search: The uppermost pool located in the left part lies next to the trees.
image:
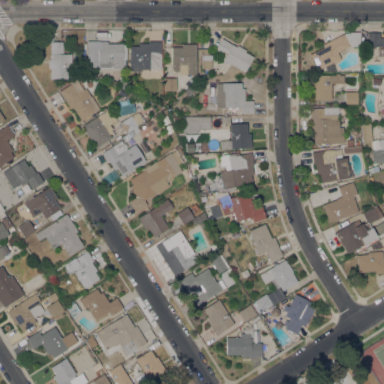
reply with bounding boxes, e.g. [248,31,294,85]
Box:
[119,100,137,116]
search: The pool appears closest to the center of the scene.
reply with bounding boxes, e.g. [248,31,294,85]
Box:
[198,158,217,170]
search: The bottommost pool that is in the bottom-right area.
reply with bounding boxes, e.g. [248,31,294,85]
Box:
[271,326,292,348]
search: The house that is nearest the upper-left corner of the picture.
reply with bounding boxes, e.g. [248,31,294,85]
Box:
[50,41,70,81]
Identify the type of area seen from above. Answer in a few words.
residential area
